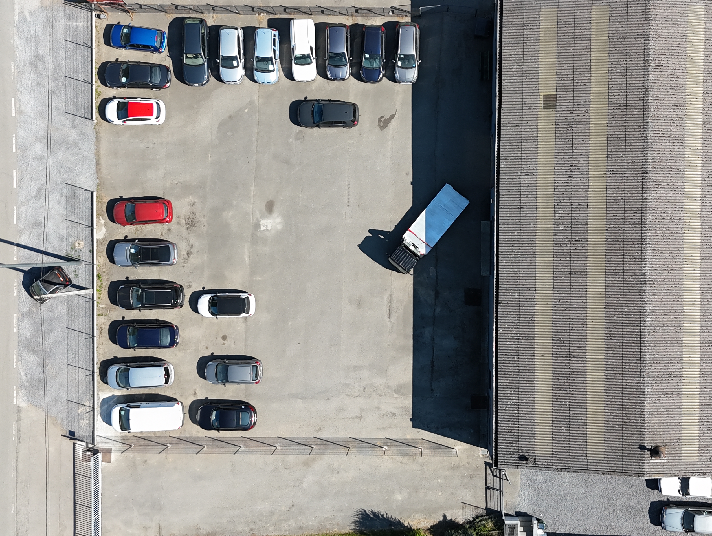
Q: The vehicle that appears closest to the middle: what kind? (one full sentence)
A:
From above, the vehicle that appears closest to the middle can be identified as a truck.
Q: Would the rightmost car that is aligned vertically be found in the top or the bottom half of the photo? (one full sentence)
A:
Seen from above, the rightmost car that is aligned vertically lies in the top half of the view.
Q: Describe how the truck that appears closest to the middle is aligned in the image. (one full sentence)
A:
Seen from above, the truck that appears closest to the middle lies on a diagonal.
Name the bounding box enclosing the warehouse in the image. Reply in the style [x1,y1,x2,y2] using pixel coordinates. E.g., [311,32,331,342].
[490,0,712,481]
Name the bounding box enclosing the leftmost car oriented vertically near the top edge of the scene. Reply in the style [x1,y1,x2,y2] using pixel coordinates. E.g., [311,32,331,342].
[179,19,212,88]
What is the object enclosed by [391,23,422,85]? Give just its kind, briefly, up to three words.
car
